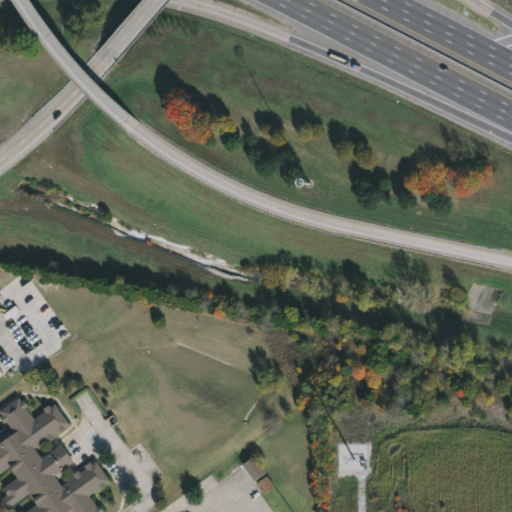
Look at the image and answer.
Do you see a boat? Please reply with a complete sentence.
No, the scene contains no boat.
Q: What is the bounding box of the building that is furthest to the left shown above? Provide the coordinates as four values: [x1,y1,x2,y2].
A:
[0,393,112,512]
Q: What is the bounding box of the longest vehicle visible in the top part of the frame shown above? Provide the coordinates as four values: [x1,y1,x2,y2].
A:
[328,52,362,70]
